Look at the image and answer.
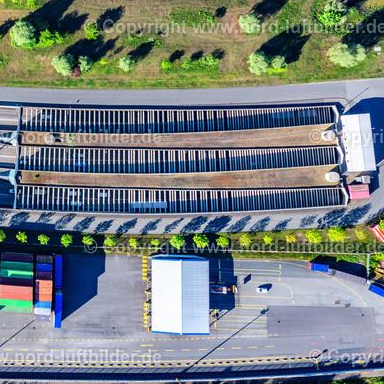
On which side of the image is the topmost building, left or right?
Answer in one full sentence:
It is on the right.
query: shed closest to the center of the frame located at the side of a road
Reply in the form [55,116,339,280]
[150,247,209,335]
